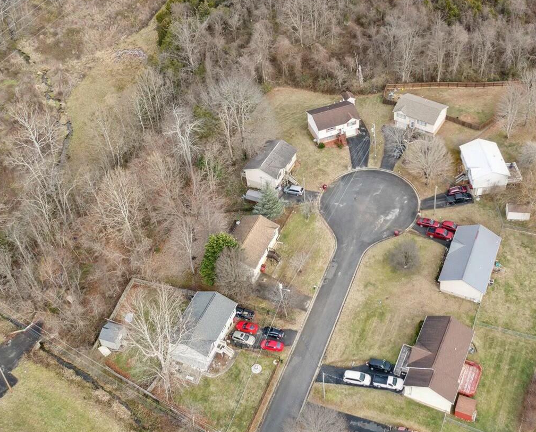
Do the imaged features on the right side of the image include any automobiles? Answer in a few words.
Yes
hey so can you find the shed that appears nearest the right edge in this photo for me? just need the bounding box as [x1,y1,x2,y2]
[507,203,532,219]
